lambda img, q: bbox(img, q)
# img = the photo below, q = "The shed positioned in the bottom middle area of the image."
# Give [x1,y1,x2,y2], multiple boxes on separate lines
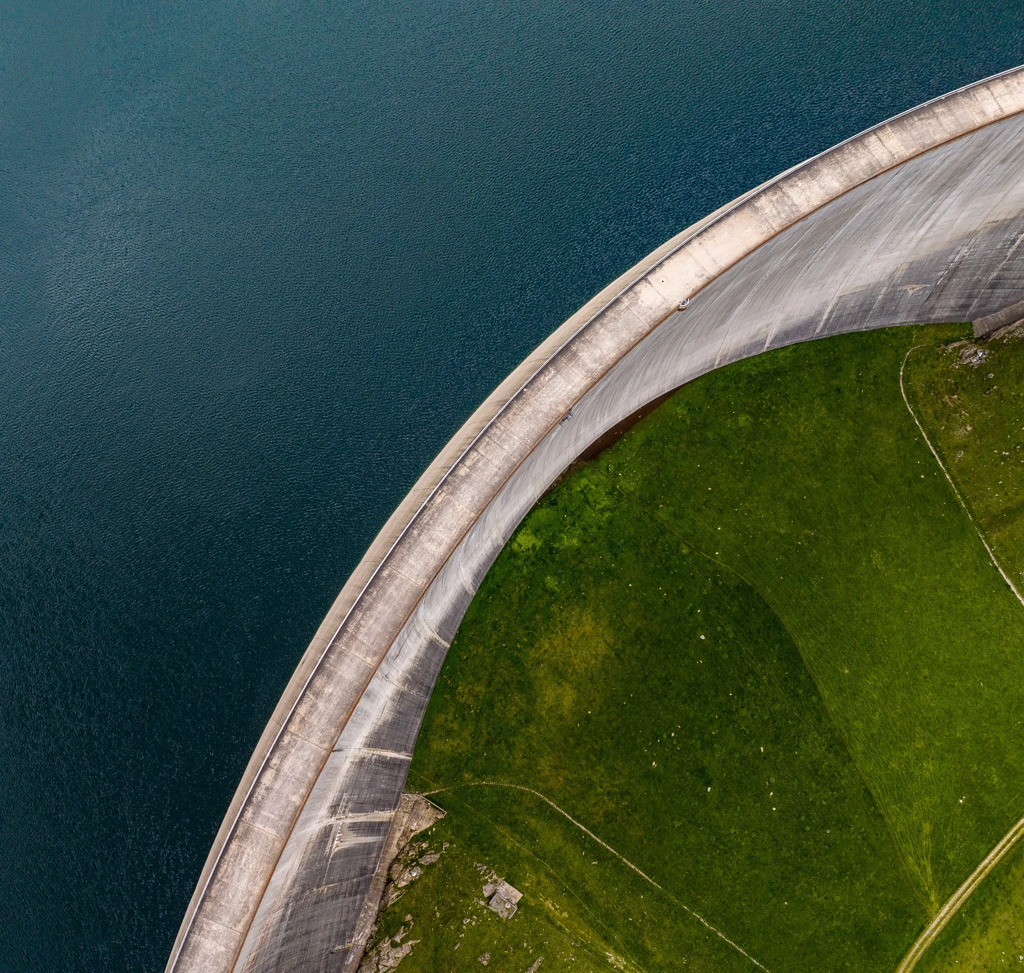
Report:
[488,881,523,919]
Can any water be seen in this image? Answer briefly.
Yes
